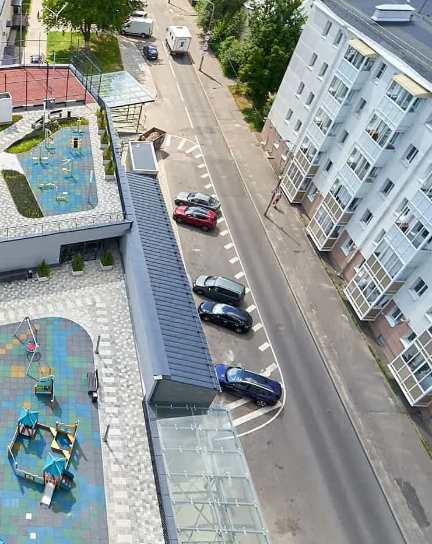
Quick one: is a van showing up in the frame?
Yes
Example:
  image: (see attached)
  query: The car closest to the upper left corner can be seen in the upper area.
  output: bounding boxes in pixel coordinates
[28,51,46,65]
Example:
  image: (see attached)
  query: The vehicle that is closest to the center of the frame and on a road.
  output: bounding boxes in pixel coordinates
[189,274,250,306]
